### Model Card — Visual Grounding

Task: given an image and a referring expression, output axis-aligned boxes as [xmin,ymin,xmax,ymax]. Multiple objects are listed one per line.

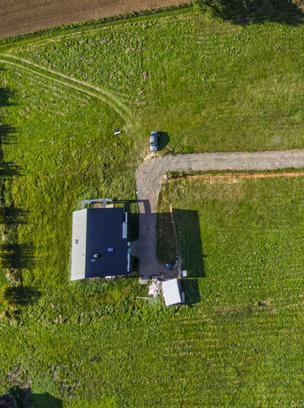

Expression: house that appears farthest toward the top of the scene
[71,205,136,281]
